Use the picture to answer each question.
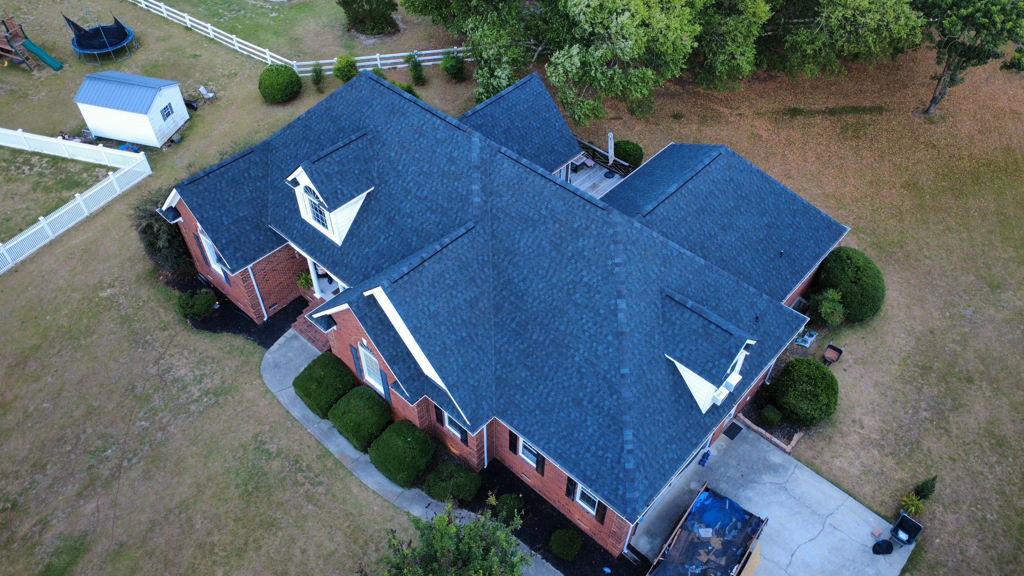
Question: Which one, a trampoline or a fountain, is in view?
trampoline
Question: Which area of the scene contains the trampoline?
top left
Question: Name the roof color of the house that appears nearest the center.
blue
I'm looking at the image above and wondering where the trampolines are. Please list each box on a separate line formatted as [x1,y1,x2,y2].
[59,9,139,69]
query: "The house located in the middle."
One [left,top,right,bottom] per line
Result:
[153,71,853,562]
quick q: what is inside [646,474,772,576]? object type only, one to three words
trailer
